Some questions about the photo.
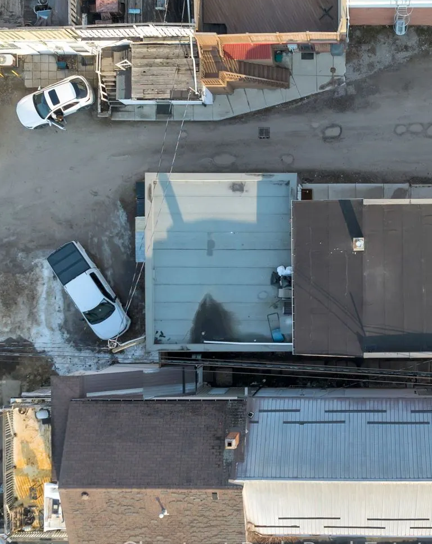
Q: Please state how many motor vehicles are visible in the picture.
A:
two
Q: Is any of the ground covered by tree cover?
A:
No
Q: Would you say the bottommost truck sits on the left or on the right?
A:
left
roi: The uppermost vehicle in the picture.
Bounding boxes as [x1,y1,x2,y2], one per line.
[15,76,101,133]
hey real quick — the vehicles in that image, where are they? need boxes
[47,239,130,338]
[15,76,101,133]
